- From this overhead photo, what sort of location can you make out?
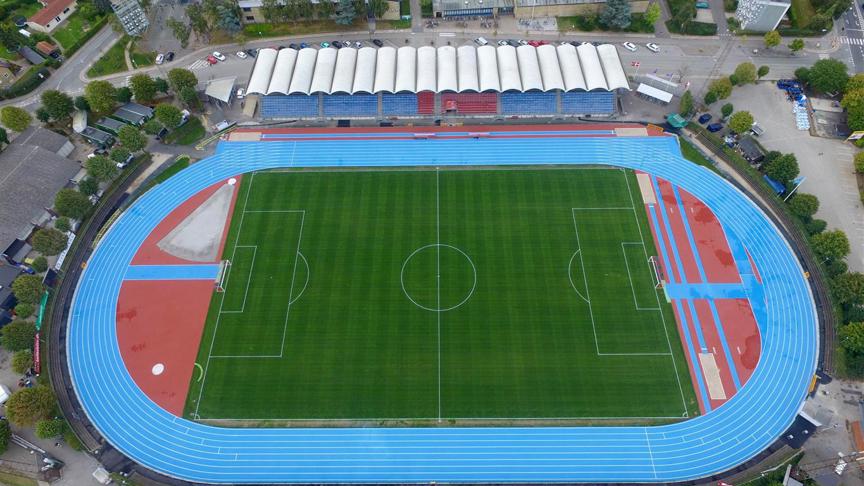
sports ground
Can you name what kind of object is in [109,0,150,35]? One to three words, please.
building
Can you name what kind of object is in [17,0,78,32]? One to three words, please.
house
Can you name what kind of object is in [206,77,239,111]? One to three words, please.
building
